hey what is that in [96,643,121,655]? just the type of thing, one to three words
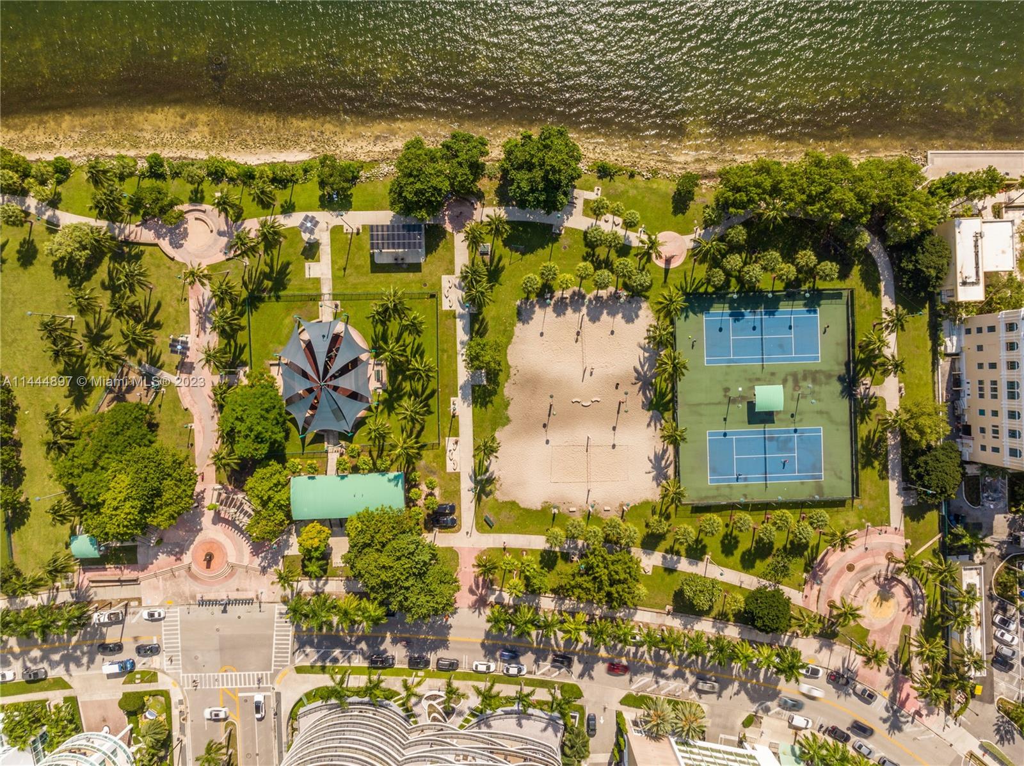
vehicle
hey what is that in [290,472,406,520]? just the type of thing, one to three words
building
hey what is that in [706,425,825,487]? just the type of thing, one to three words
tennis court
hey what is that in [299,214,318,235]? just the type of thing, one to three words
solar panel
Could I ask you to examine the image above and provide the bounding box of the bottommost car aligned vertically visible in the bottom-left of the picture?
[251,695,263,720]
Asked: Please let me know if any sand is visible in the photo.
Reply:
Yes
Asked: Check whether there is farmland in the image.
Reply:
No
